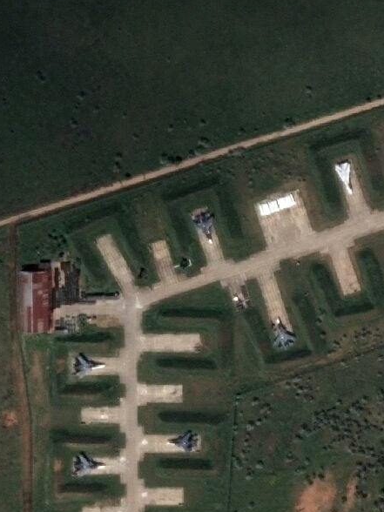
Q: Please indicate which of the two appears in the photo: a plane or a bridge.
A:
plane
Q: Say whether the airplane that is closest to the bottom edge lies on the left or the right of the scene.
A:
left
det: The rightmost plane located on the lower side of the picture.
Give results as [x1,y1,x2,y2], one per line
[273,319,293,350]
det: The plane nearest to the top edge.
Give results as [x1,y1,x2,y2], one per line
[335,161,350,193]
